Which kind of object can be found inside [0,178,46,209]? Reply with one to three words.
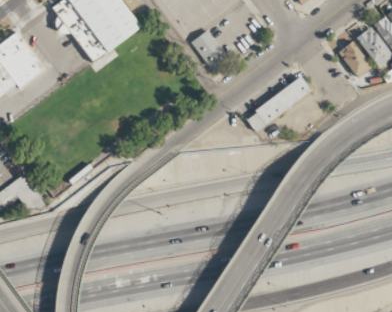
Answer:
house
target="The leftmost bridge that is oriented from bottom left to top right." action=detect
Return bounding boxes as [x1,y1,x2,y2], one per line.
[54,135,190,312]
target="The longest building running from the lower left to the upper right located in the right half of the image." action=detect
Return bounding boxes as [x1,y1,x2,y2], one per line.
[256,76,312,126]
